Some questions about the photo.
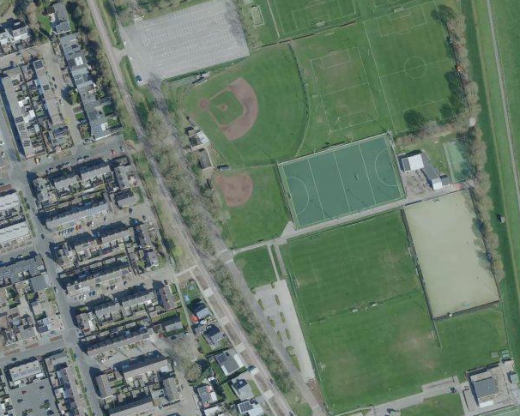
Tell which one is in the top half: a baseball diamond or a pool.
baseball diamond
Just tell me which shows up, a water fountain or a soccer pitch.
soccer pitch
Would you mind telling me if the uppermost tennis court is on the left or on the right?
right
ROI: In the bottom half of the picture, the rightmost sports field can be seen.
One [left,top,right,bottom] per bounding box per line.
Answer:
[404,190,499,317]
